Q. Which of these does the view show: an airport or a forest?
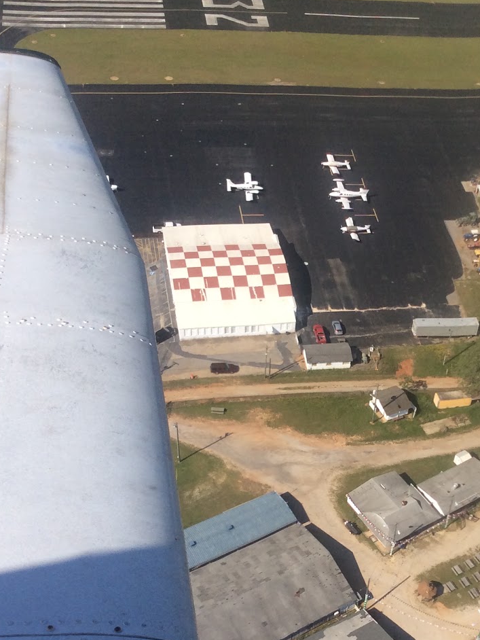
airport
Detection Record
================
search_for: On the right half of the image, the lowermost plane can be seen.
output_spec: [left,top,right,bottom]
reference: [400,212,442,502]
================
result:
[340,217,371,241]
